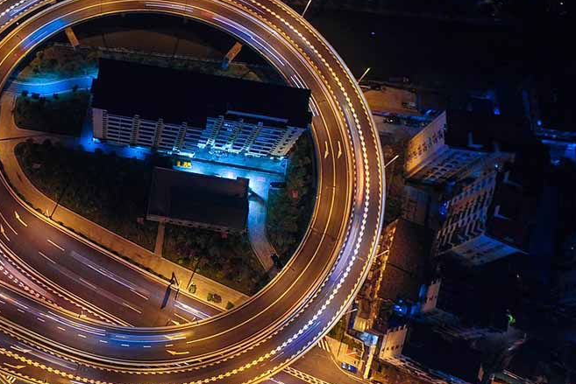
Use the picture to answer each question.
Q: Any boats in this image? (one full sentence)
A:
No, the frame has no boat in it.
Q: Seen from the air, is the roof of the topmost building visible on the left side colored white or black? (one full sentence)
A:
The roof of the topmost building visible on the left side looks black in the image.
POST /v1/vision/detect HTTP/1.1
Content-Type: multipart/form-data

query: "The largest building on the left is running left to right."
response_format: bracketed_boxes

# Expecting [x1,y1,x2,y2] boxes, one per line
[91,55,315,160]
